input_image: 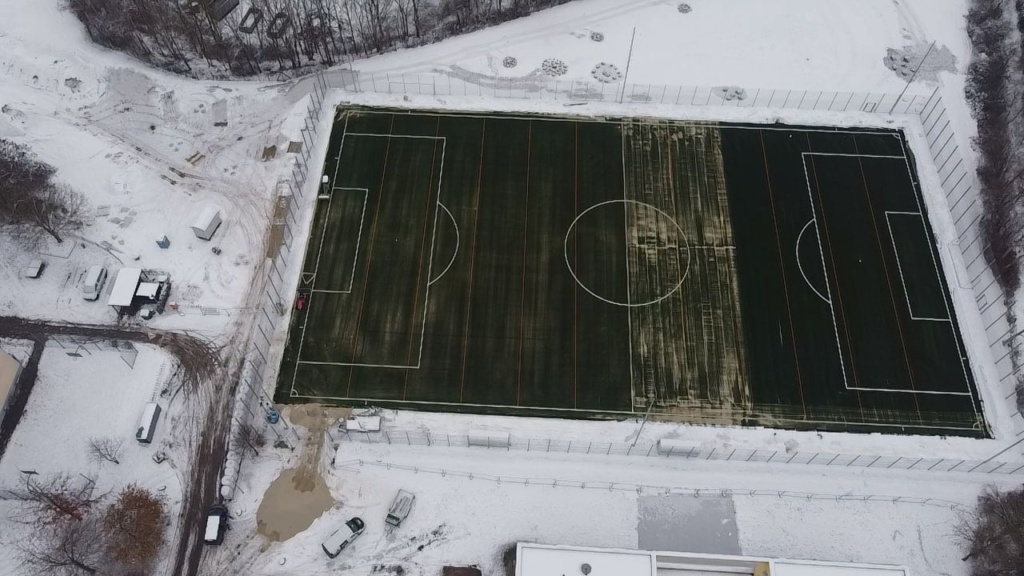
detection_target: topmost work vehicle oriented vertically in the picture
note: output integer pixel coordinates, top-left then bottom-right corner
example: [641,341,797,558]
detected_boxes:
[320,174,333,201]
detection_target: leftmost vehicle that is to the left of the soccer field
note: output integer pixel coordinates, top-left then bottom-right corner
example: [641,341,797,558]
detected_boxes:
[84,266,107,301]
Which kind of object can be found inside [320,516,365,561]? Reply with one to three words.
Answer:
van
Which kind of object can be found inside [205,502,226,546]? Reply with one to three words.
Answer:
vehicle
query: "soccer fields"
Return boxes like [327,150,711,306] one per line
[273,106,989,438]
